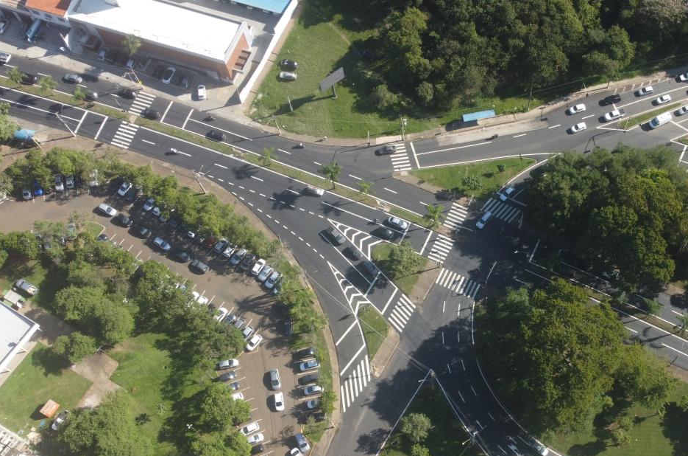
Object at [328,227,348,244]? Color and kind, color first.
gray vehicle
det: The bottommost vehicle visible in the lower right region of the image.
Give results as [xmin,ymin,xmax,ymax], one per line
[530,439,549,456]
